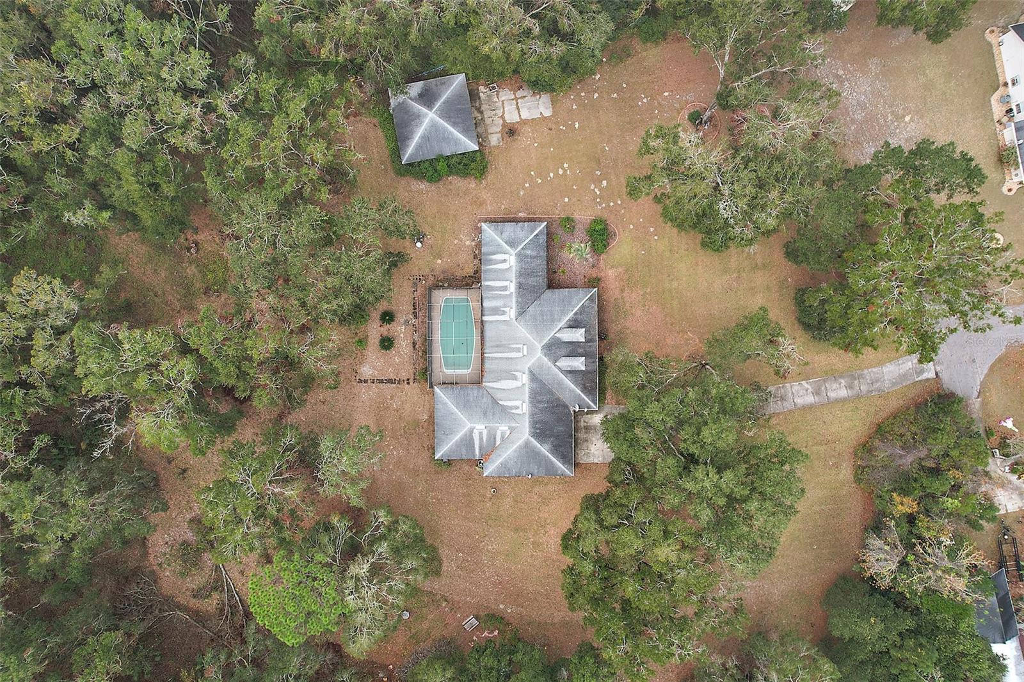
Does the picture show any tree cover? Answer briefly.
Yes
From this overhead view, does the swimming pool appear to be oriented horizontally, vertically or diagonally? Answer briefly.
vertically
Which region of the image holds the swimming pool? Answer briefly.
center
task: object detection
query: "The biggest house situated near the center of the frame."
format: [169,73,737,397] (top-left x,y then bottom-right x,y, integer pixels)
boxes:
[435,222,599,477]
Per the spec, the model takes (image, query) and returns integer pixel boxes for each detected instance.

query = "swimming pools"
[437,293,476,375]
